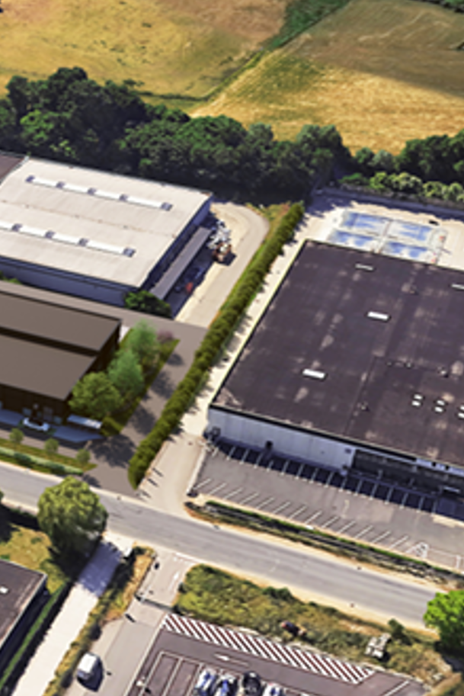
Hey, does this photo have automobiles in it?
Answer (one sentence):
Yes, an automobile appears in the view.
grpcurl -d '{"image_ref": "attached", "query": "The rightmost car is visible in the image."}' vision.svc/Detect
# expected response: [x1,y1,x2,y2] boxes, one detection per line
[264,678,284,696]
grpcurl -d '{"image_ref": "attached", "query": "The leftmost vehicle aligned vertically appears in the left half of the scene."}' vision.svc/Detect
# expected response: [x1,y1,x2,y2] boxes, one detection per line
[80,642,97,683]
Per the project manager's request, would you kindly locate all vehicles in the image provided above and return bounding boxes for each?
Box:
[80,642,97,683]
[193,667,214,694]
[213,673,234,696]
[264,678,284,696]
[241,671,262,696]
